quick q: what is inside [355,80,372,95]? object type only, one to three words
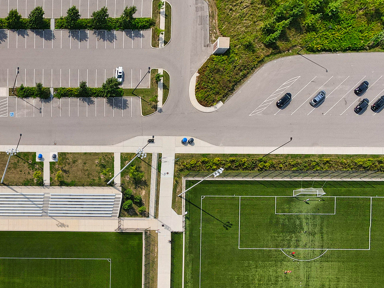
car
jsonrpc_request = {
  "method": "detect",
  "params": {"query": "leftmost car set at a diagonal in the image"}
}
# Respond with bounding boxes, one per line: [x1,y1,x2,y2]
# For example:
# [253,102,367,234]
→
[277,93,295,108]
